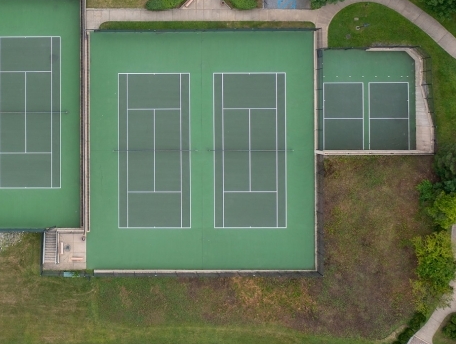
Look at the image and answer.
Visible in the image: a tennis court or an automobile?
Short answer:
tennis court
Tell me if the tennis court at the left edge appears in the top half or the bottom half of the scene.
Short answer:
top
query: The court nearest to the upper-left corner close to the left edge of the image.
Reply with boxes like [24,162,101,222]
[0,37,61,188]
